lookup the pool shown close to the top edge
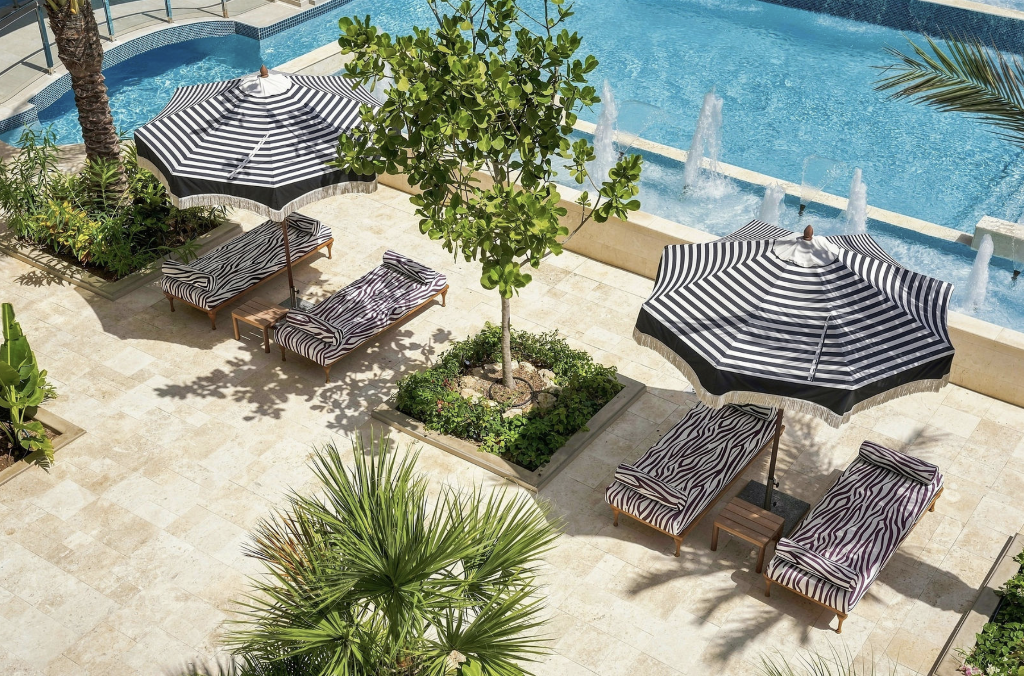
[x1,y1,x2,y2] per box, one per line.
[0,0,1024,235]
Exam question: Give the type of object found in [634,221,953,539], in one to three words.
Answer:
umbrella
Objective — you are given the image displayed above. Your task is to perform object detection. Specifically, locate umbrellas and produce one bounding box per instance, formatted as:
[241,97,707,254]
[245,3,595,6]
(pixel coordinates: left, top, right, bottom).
[634,221,953,539]
[137,63,387,322]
